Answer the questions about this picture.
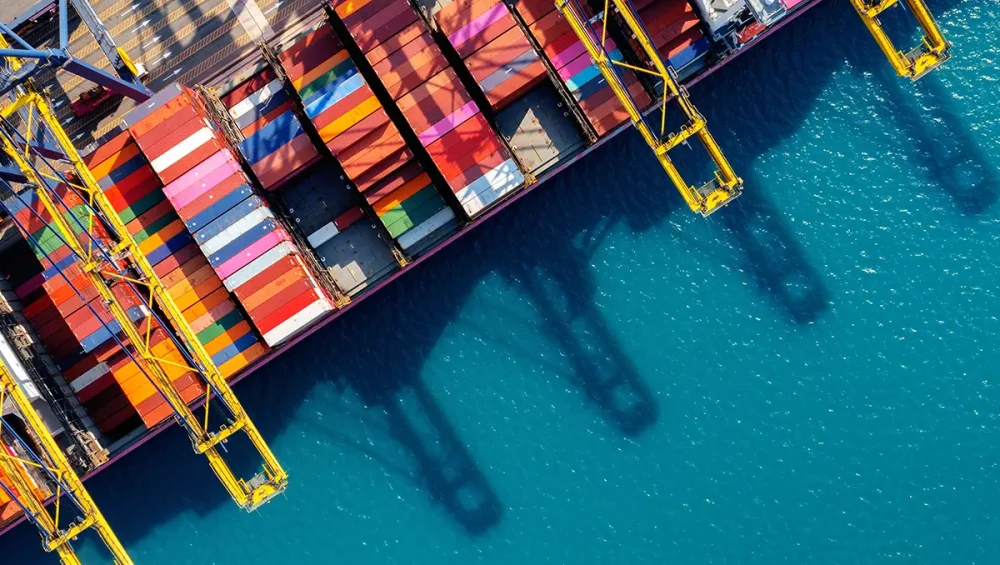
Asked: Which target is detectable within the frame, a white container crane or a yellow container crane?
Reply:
yellow container crane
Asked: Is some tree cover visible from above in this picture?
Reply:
No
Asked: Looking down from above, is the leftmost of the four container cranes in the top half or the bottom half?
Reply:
bottom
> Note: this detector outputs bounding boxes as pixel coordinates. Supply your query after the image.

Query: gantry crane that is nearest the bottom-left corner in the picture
[0,367,127,565]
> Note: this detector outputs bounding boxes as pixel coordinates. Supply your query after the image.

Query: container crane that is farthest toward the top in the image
[848,0,947,86]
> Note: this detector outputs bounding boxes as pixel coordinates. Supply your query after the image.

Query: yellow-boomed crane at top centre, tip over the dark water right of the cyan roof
[555,0,738,220]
